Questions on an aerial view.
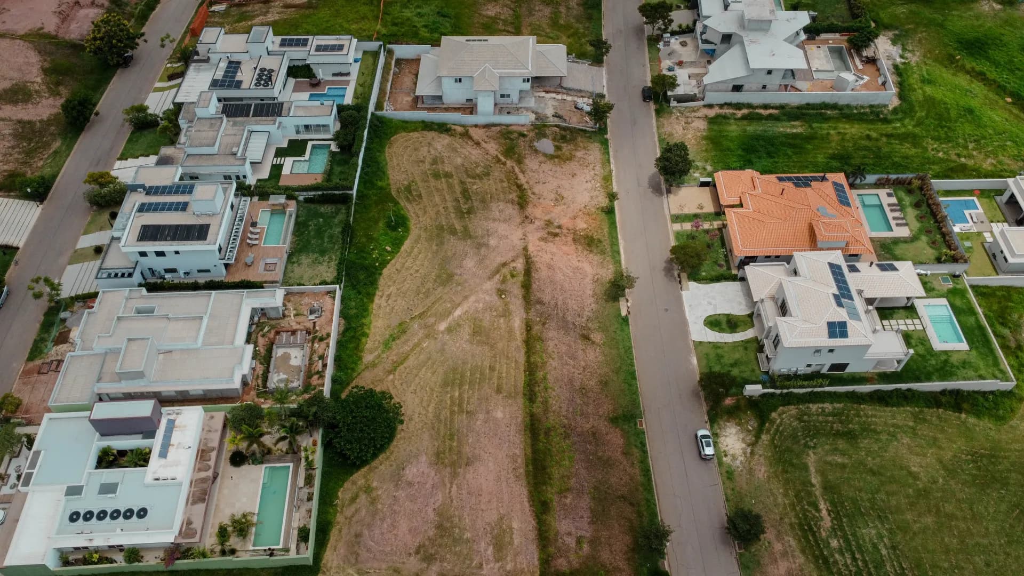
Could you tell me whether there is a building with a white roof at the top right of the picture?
Yes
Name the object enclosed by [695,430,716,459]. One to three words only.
car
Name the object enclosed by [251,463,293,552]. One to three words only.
swimming pool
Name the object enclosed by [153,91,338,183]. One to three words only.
house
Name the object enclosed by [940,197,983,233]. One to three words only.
swimming pool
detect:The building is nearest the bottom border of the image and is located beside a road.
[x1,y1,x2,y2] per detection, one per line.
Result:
[4,399,227,576]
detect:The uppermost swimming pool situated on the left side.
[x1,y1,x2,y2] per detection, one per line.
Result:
[307,86,350,106]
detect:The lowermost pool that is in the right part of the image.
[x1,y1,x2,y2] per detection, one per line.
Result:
[914,298,969,351]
